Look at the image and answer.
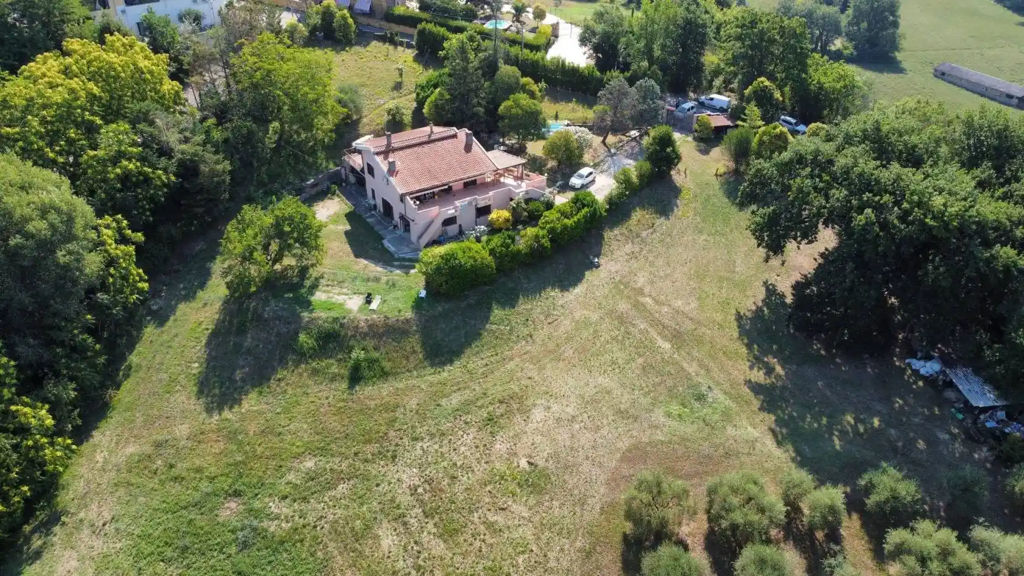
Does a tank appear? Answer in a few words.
No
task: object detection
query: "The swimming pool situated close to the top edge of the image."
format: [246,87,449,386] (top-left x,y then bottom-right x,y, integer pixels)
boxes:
[483,17,511,30]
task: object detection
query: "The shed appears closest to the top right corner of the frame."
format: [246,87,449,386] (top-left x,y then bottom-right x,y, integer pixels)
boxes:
[935,60,1024,111]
